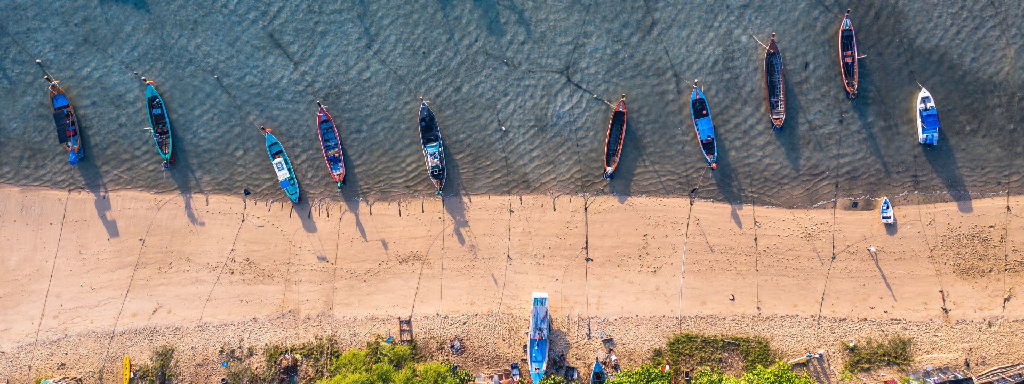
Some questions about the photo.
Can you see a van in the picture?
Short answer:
No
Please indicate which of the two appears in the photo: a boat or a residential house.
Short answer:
boat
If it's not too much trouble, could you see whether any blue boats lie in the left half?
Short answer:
Yes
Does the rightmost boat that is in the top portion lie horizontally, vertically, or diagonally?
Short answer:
vertically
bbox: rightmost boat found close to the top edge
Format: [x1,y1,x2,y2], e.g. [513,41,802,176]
[837,6,867,105]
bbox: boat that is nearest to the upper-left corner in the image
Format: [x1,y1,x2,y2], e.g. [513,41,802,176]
[42,76,84,172]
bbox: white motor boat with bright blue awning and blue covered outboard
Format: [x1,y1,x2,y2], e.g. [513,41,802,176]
[914,88,940,147]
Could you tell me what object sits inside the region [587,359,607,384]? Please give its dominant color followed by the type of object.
blue boat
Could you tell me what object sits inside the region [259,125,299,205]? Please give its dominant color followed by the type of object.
blue boat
